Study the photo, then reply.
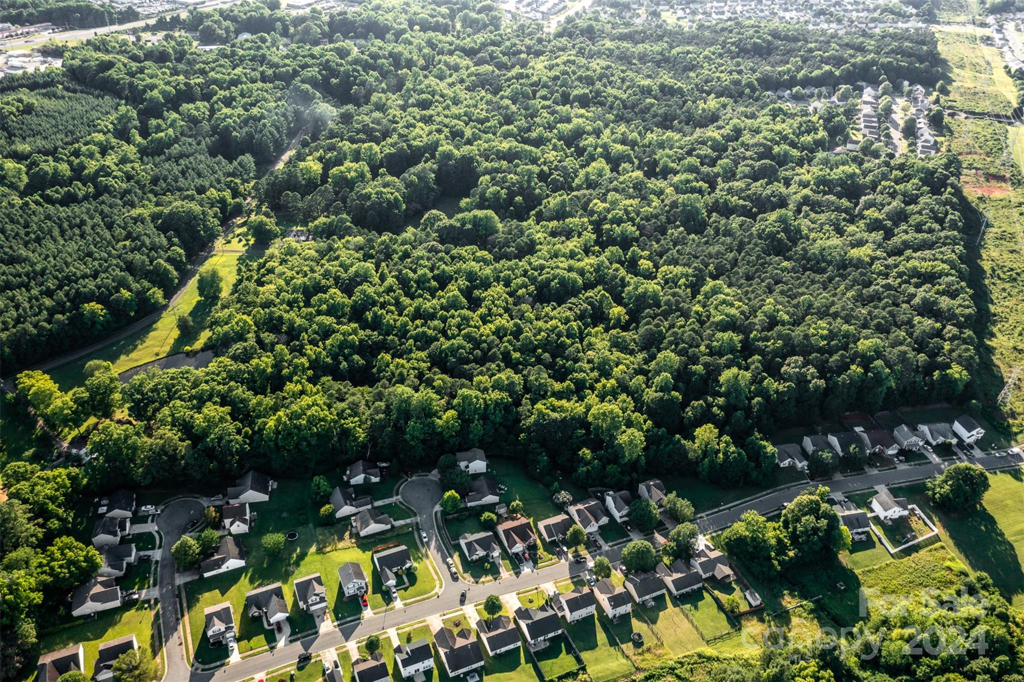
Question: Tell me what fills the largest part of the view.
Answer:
trees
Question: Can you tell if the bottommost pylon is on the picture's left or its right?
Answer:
right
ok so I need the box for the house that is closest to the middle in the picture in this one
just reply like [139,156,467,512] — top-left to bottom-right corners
[456,448,488,474]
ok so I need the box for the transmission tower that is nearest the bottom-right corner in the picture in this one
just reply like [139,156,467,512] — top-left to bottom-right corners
[995,365,1024,407]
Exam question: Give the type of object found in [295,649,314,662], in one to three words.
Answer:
vehicle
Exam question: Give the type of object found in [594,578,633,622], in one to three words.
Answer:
house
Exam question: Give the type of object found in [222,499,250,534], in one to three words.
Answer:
house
